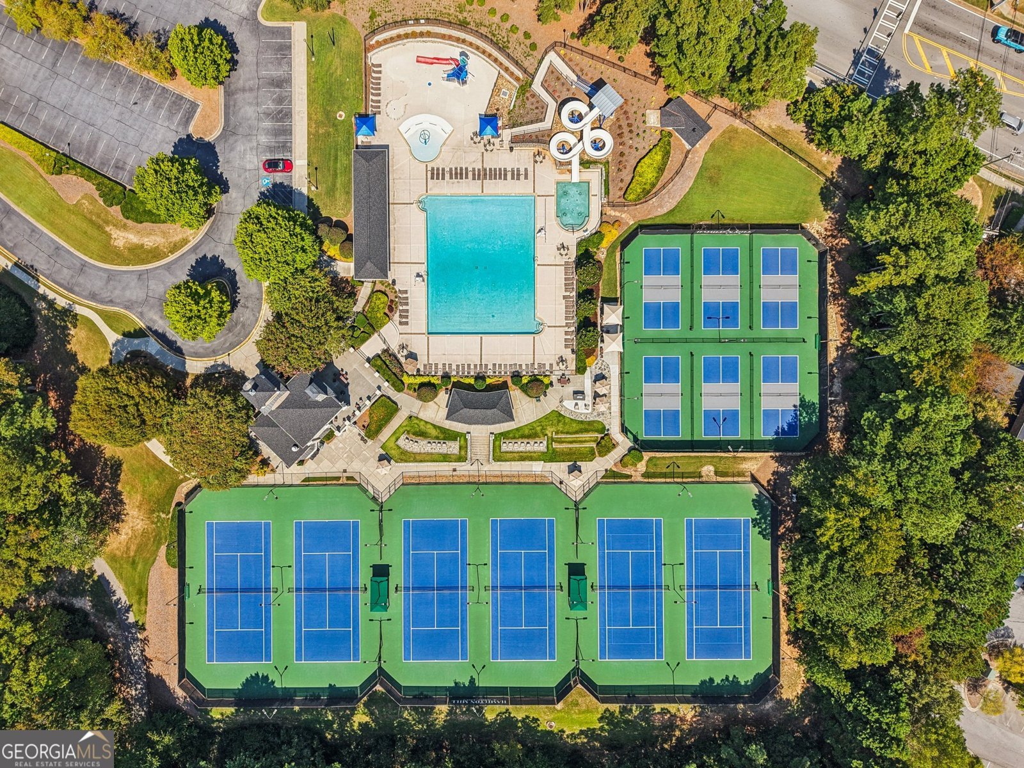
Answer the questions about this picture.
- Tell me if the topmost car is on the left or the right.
right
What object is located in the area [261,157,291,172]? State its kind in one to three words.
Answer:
car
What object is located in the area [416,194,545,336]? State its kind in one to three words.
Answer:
swimming pool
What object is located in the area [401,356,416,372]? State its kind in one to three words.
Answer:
umbrella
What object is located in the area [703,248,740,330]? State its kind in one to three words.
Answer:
sports court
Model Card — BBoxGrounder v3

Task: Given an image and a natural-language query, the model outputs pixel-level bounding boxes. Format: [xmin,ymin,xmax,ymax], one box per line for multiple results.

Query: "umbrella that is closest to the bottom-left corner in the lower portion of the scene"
[375,457,390,473]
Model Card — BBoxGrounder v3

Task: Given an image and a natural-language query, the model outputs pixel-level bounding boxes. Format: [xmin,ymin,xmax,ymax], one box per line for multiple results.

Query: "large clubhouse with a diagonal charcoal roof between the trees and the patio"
[241,369,345,469]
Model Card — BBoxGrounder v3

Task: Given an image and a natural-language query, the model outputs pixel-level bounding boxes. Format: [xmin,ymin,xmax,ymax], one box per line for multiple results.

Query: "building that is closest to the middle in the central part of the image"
[445,388,515,425]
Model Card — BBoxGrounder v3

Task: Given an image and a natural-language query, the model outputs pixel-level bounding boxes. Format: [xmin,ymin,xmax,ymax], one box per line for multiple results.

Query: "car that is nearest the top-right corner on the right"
[995,25,1024,48]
